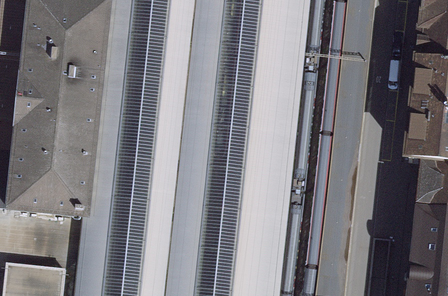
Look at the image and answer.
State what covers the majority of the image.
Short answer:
buildings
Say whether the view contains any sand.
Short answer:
No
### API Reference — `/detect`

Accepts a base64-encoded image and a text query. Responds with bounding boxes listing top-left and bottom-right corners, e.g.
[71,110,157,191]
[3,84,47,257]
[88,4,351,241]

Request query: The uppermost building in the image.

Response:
[416,0,448,54]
